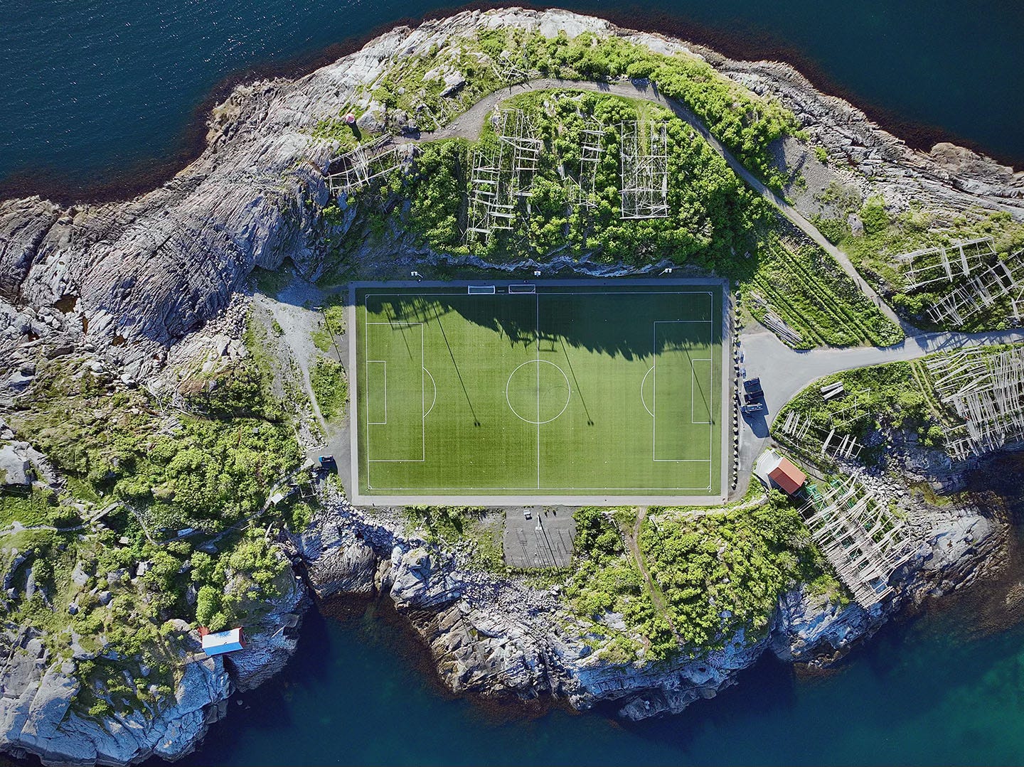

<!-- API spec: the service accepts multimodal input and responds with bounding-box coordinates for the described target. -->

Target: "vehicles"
[744,379,762,389]
[318,456,333,463]
[740,403,766,414]
[745,391,765,401]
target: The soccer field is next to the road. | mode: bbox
[349,279,729,505]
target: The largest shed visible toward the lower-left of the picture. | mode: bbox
[199,625,247,655]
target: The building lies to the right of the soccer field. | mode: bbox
[755,447,807,495]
